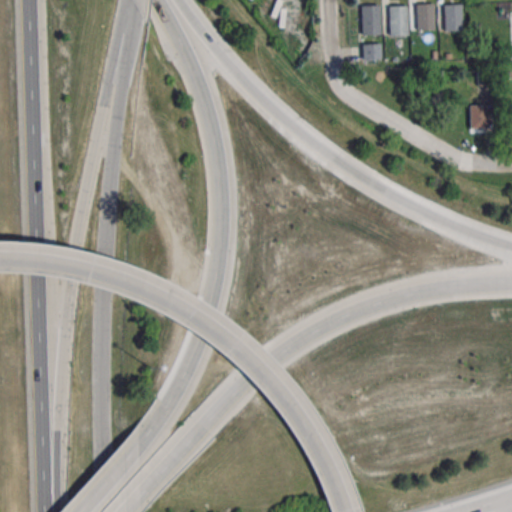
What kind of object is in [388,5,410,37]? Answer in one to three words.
house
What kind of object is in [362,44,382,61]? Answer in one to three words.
building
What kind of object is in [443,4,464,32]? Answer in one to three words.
house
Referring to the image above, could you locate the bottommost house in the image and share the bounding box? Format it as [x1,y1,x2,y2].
[469,106,488,132]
